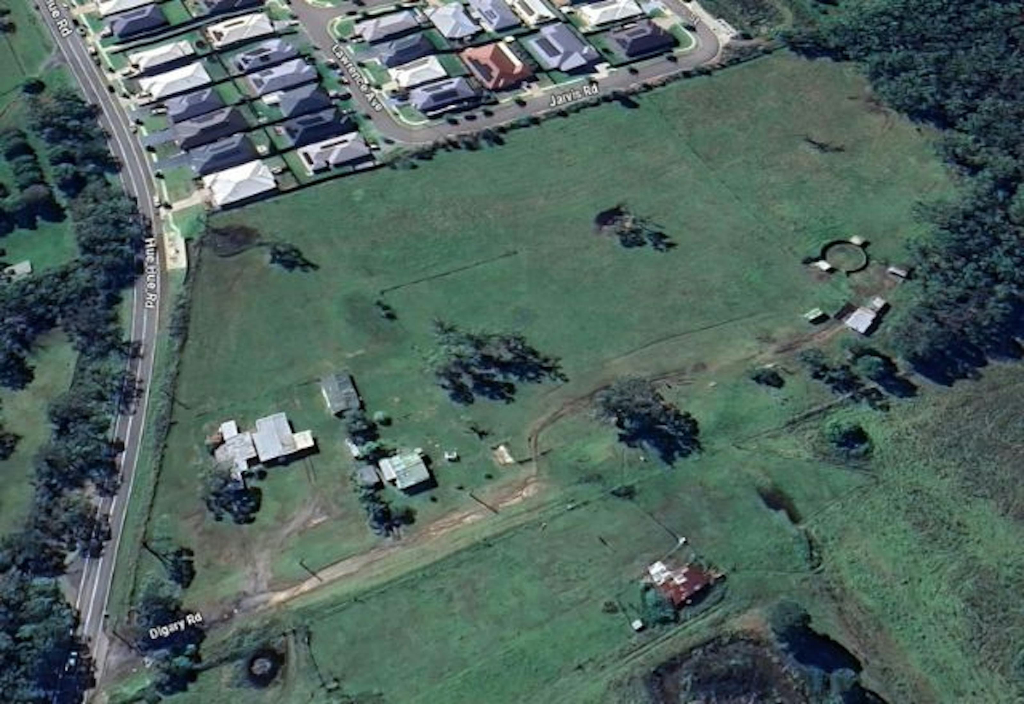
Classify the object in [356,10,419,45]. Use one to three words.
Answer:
house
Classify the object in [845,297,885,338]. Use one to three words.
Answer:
barn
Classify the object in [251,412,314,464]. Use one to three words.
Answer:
shed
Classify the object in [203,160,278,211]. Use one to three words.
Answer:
house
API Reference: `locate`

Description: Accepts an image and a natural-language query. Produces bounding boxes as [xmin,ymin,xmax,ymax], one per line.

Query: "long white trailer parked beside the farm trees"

[343,438,362,459]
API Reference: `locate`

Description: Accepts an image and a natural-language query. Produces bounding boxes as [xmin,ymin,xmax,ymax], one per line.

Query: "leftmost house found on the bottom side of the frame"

[207,419,261,484]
